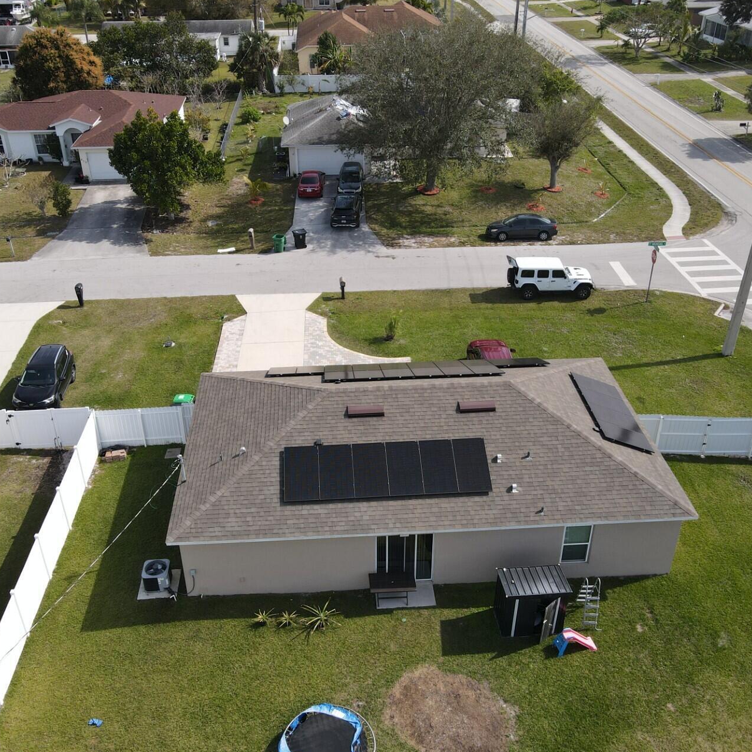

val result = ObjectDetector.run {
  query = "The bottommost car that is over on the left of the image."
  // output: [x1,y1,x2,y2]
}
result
[19,336,83,411]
